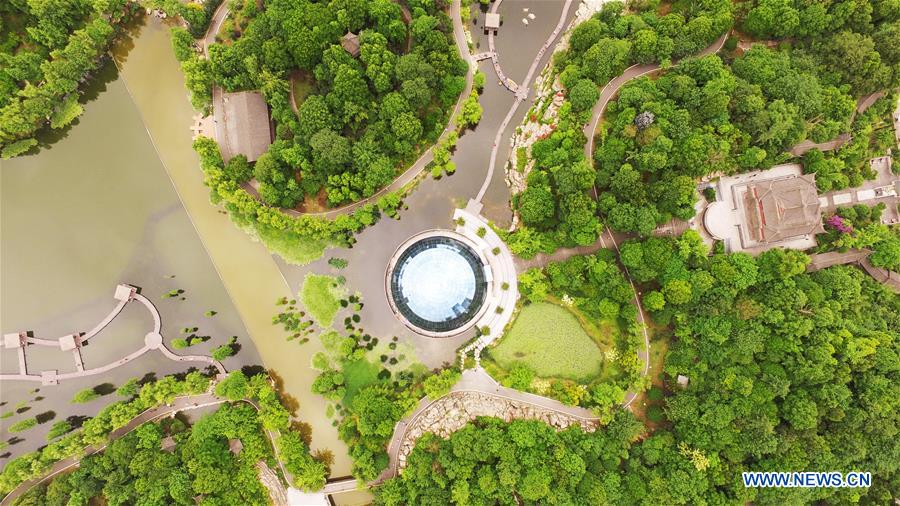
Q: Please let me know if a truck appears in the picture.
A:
No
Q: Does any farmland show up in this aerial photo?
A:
No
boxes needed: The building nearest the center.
[385,230,494,338]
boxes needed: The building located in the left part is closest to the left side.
[6,331,34,349]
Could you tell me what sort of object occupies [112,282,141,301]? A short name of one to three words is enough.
building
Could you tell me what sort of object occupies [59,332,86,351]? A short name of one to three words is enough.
building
